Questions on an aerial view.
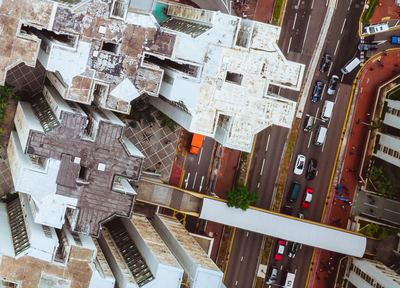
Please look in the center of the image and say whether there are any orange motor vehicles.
Yes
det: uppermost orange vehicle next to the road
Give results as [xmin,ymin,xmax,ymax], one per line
[189,132,205,154]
